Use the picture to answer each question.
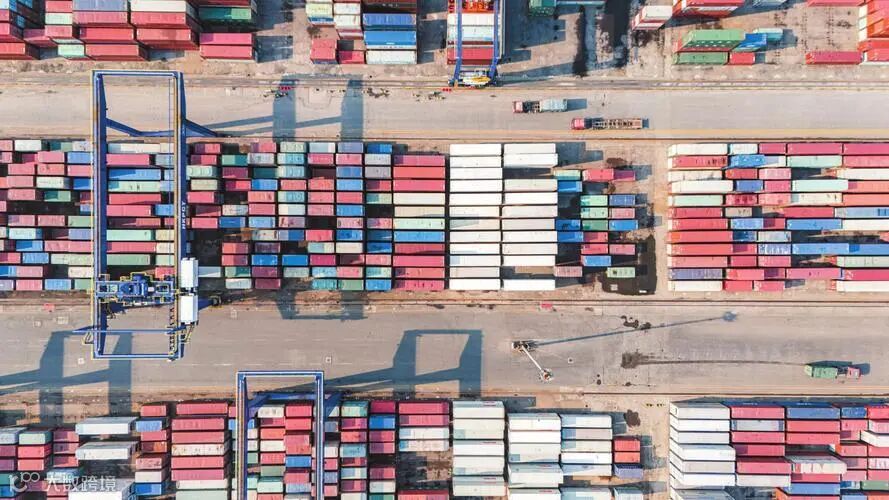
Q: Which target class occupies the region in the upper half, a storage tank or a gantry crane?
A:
gantry crane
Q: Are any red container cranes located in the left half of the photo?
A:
No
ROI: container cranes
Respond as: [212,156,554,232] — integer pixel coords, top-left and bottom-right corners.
[74,69,223,359]
[232,372,343,500]
[447,0,503,88]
